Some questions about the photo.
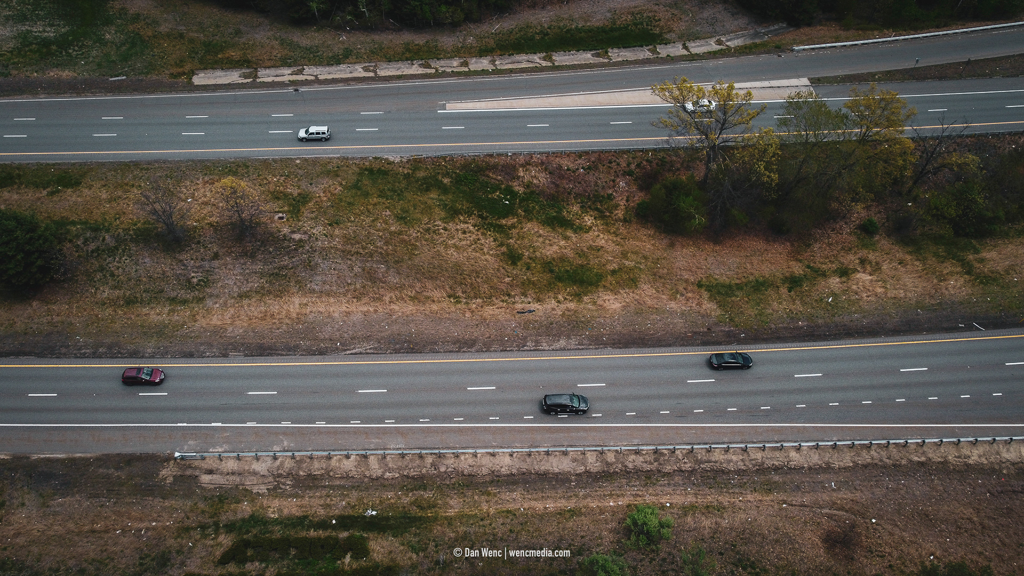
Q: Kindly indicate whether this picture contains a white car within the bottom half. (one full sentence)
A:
No, the scene shows no white car within the bottom half.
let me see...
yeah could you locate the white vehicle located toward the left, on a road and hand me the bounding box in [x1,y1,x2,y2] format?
[297,125,330,142]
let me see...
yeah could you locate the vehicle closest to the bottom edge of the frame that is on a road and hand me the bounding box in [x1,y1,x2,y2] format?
[542,391,590,415]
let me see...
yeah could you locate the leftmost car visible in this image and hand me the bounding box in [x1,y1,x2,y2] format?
[117,364,165,386]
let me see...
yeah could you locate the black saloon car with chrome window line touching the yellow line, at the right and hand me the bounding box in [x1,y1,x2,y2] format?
[709,348,754,369]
